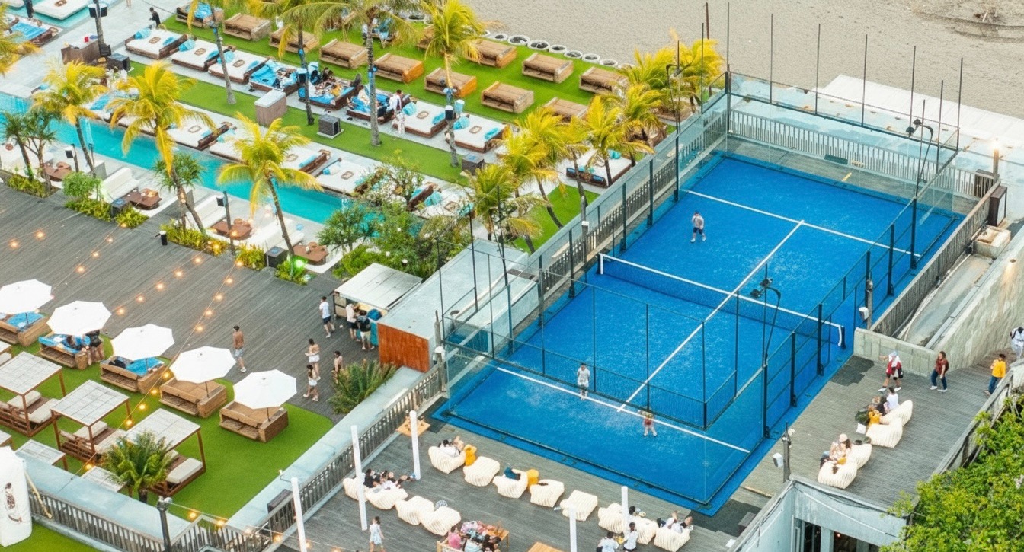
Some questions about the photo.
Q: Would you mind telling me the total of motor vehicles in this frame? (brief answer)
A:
0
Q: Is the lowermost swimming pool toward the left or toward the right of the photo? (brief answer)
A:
left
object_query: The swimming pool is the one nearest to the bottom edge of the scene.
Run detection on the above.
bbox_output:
[0,99,408,252]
